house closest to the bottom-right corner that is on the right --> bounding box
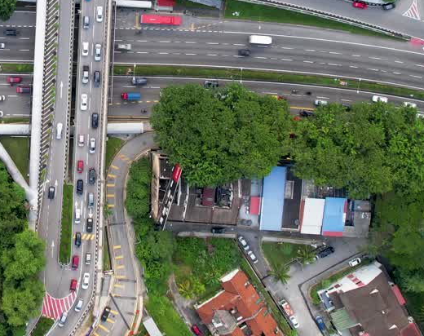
[319,262,420,336]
